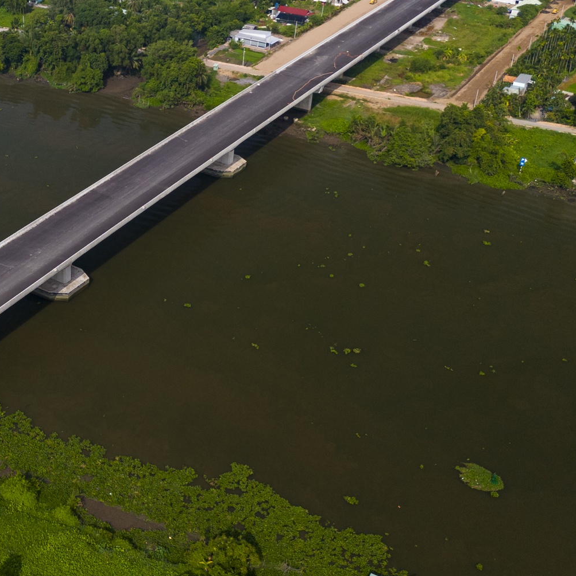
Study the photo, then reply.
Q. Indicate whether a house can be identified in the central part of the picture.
No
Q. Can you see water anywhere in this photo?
Yes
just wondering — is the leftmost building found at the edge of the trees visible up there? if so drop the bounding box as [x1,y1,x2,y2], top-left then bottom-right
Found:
[236,23,278,47]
